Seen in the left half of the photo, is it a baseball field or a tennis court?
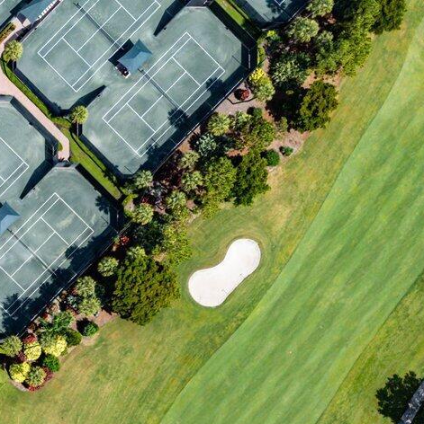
tennis court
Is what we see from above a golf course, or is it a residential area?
golf course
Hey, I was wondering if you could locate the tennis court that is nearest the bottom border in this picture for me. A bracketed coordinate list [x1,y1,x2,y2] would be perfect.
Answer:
[0,165,118,335]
